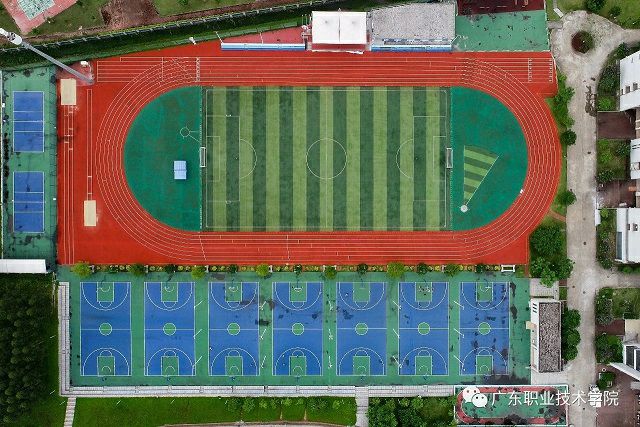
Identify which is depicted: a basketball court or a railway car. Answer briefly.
basketball court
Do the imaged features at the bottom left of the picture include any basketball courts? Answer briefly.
Yes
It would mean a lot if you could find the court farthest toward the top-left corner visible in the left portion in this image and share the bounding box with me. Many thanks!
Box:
[4,0,73,33]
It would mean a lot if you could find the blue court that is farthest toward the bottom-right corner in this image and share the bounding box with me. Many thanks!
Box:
[459,282,510,376]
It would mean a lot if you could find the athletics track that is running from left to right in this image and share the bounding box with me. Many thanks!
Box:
[58,42,561,264]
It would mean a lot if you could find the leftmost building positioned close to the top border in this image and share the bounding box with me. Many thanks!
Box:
[369,1,456,46]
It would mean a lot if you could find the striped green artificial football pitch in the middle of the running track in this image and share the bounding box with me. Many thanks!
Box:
[201,86,452,231]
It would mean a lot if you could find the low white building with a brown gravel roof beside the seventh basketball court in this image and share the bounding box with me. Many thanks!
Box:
[527,297,562,373]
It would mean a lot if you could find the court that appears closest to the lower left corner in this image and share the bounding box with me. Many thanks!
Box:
[80,282,131,376]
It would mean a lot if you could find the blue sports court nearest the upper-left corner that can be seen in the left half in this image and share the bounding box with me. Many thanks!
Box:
[13,91,44,152]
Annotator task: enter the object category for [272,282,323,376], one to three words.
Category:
basketball court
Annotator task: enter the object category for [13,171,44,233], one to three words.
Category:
sports court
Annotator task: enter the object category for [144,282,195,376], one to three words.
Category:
basketball court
